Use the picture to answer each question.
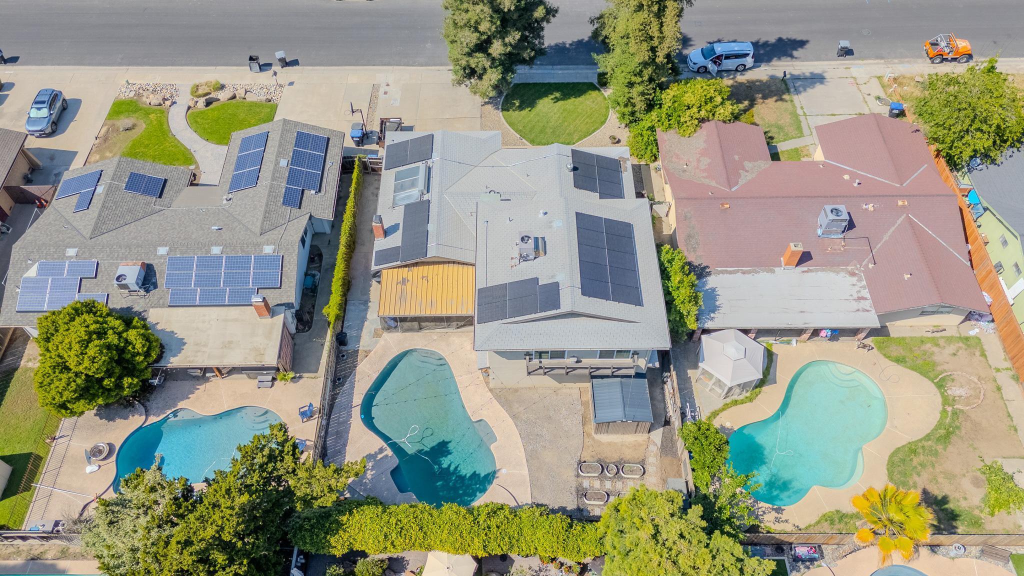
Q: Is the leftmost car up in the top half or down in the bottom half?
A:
top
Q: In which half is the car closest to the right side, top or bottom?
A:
top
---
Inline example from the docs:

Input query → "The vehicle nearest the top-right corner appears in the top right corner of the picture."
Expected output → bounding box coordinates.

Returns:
[922,35,972,64]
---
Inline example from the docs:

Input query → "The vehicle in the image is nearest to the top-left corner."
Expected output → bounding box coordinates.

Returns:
[20,87,67,138]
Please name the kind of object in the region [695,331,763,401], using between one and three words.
gazebo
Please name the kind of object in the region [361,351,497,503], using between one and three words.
swimming pool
